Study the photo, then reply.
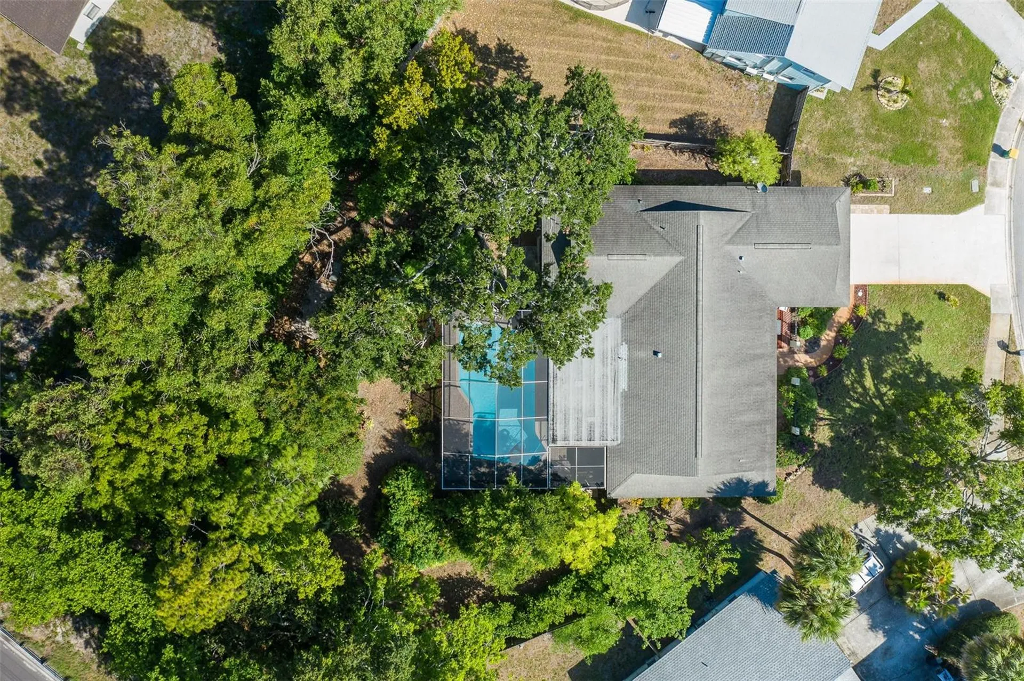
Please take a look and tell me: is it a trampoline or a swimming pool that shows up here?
swimming pool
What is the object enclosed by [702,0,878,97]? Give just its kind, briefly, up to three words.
house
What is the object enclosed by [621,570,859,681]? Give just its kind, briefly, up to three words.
house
